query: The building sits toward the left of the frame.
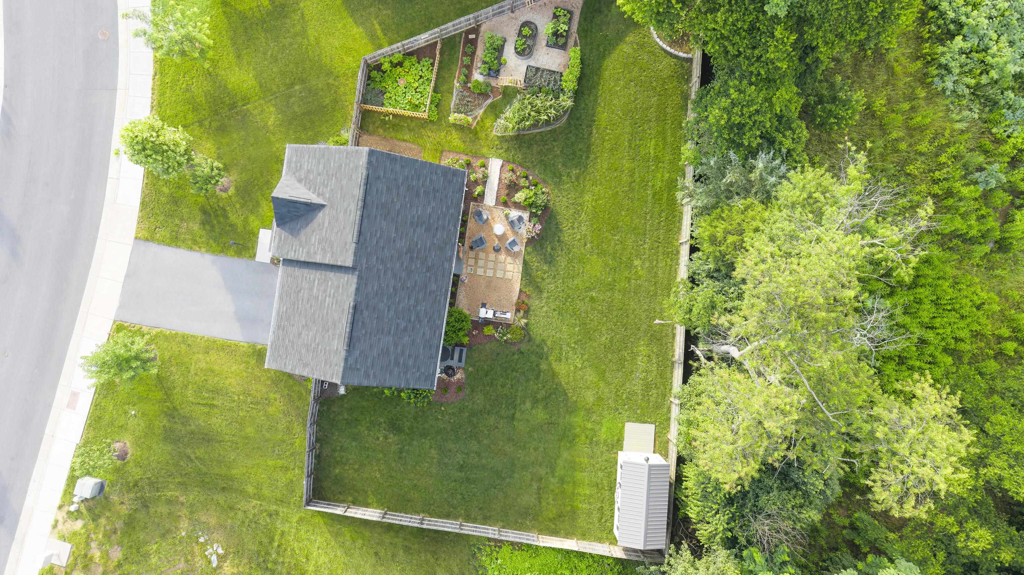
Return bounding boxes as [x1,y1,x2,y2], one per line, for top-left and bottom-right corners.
[263,143,470,392]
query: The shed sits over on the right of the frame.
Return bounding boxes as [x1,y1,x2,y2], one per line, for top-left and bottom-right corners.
[613,451,669,552]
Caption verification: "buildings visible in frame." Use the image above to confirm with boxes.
[613,451,669,552]
[263,143,470,392]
